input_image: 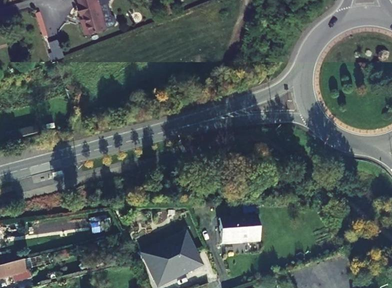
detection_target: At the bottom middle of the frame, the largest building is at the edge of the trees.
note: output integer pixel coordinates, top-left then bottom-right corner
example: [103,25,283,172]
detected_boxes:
[140,230,203,287]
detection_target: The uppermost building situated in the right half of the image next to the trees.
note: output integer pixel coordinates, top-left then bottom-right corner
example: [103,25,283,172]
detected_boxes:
[220,212,263,244]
